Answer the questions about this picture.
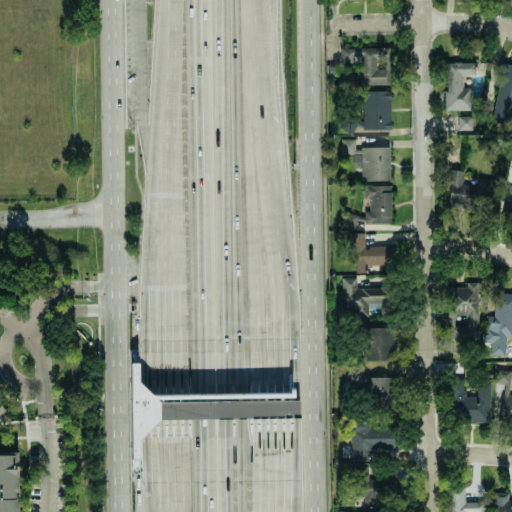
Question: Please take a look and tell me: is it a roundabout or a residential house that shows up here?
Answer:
residential house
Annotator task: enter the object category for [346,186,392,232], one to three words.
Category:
house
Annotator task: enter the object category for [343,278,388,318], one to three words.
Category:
house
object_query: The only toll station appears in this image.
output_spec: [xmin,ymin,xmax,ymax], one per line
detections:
[132,364,302,462]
